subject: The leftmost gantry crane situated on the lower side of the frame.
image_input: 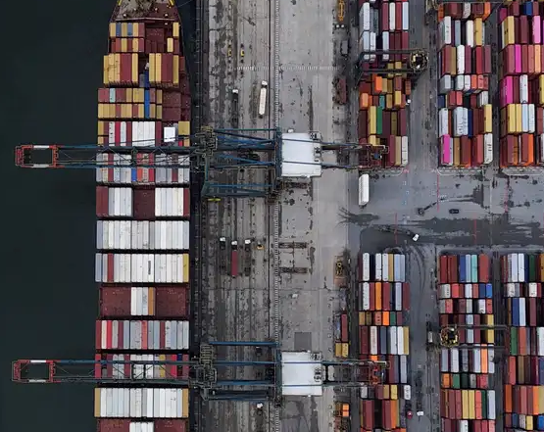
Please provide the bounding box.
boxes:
[11,327,396,404]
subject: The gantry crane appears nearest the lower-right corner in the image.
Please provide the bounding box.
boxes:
[423,319,510,353]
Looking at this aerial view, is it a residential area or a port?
port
